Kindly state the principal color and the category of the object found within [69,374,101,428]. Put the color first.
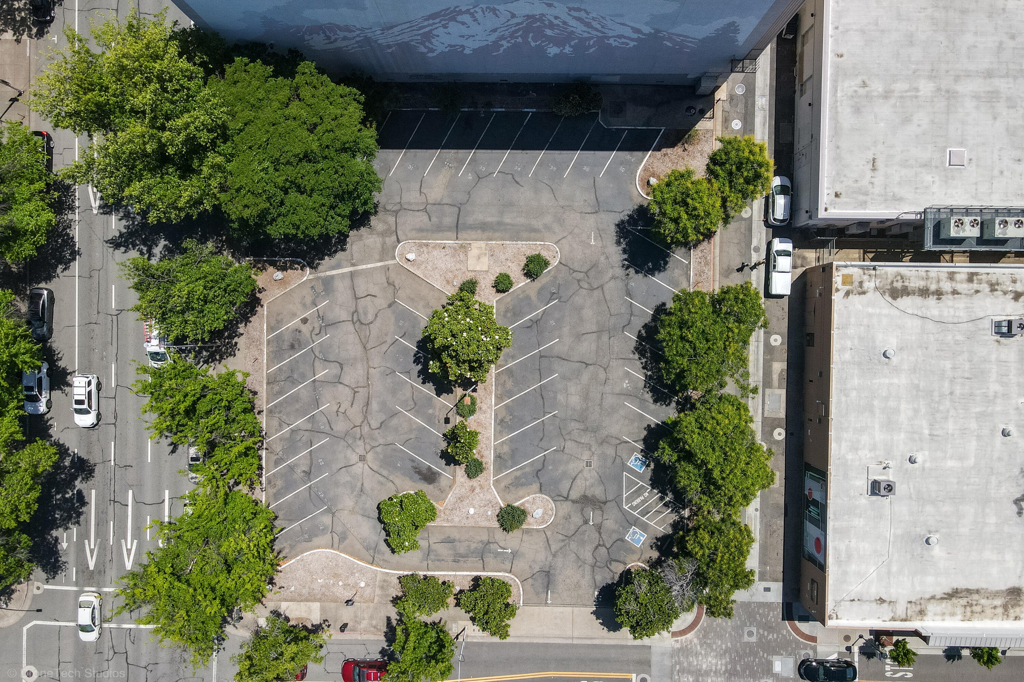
white car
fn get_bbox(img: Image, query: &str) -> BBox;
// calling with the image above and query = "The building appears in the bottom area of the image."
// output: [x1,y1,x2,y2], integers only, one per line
[800,262,1024,643]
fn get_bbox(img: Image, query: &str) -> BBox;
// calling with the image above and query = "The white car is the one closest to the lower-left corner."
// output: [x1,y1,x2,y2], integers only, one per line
[74,593,103,643]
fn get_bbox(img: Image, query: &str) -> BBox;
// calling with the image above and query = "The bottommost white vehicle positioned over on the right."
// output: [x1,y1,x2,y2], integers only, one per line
[769,237,797,298]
